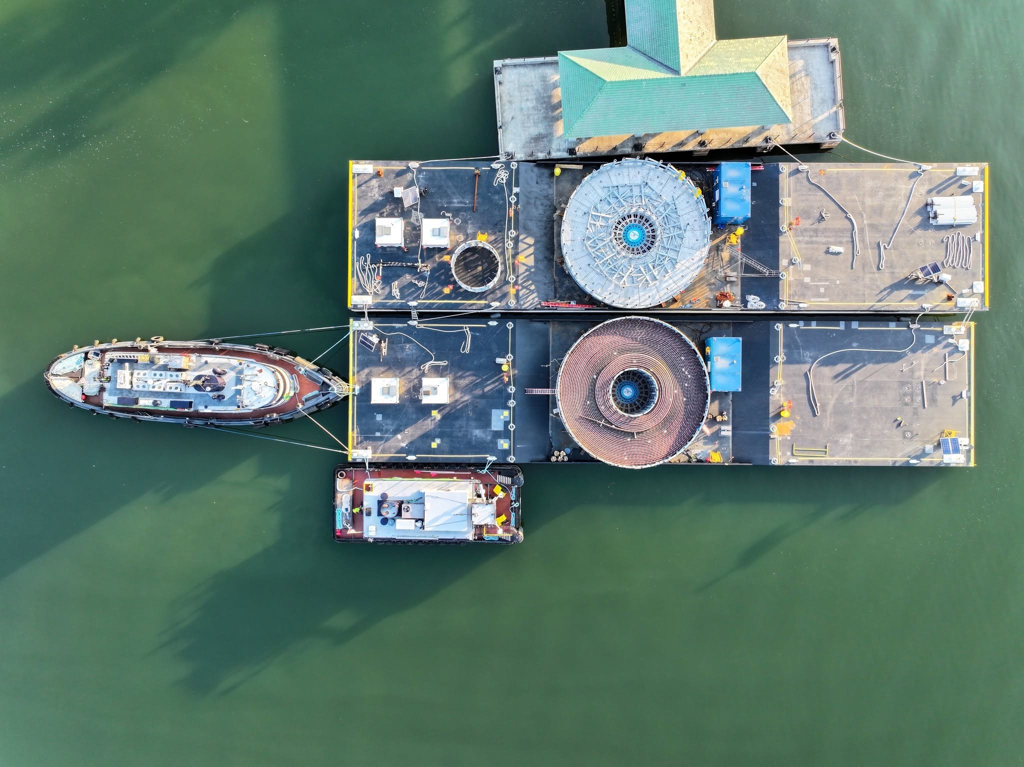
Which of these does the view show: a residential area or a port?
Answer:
port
